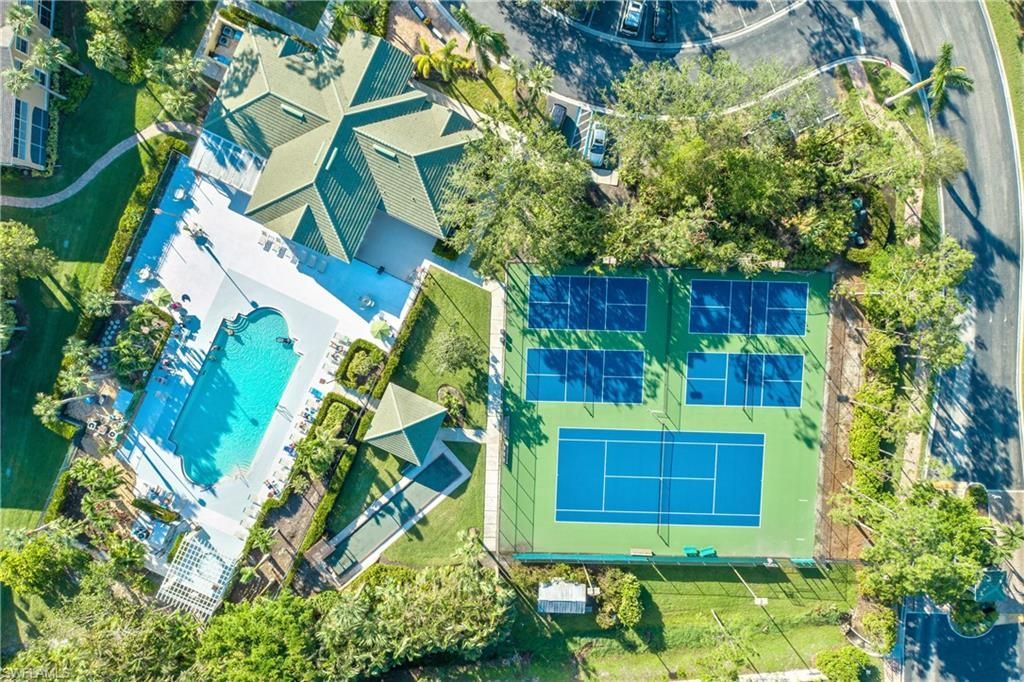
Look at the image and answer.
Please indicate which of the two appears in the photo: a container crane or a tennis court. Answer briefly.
tennis court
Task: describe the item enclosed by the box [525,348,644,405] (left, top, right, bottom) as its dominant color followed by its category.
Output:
blue sports court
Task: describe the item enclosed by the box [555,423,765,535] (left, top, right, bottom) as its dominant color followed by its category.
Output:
blue tennis court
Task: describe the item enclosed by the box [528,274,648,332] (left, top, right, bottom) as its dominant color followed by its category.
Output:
blue sports court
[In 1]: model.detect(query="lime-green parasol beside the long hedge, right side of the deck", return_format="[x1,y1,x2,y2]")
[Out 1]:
[369,318,393,341]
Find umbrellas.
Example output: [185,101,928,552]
[151,285,175,308]
[369,318,393,341]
